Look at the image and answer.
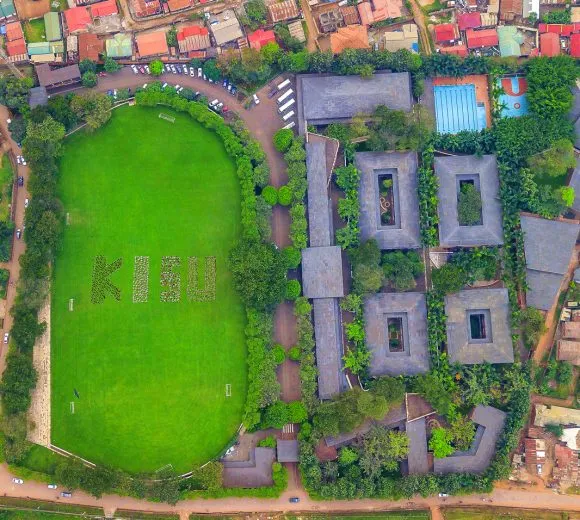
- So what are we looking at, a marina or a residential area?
residential area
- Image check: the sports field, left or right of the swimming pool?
on its left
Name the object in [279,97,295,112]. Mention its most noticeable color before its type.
white vehicle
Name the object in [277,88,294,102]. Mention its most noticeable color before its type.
white vehicle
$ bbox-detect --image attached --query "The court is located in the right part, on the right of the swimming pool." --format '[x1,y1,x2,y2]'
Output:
[497,75,534,119]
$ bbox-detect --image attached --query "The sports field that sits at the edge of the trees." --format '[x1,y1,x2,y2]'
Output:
[49,100,253,481]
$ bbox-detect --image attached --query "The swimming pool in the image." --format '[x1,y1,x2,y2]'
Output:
[432,74,490,137]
